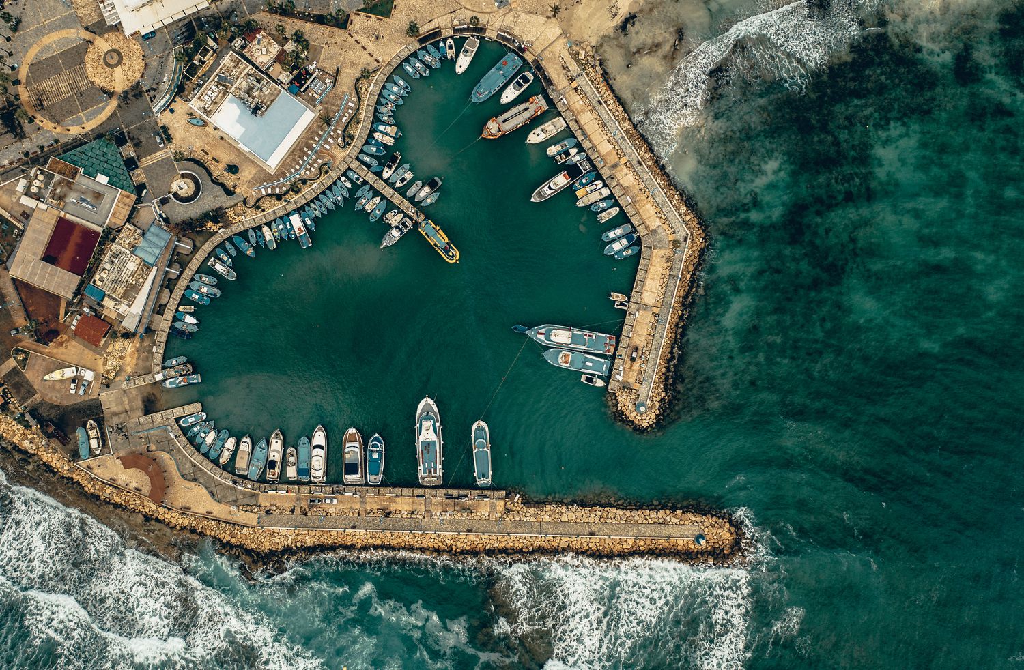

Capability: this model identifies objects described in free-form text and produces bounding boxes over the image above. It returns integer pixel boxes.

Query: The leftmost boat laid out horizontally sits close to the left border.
[43,365,79,381]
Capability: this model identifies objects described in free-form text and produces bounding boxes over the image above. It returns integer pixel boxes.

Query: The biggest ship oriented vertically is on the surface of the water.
[415,397,444,486]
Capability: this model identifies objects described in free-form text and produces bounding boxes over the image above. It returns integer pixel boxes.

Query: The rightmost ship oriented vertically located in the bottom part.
[471,421,493,487]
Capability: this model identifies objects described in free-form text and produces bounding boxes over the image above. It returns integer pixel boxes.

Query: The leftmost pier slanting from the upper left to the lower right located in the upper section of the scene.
[346,157,426,224]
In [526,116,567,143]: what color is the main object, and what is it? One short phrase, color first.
white boat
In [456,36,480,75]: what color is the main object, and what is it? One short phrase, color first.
white boat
